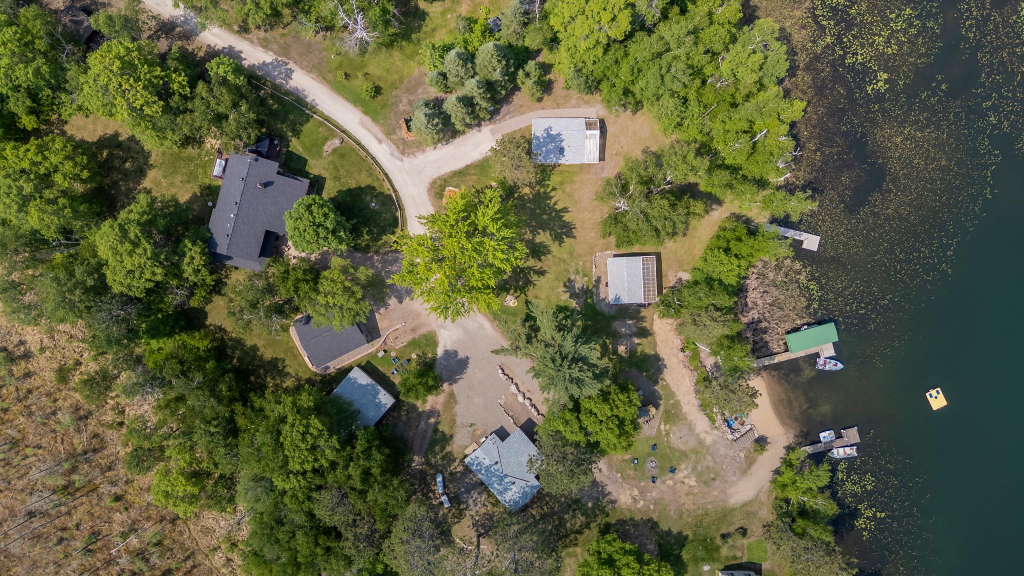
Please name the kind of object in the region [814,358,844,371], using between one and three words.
boat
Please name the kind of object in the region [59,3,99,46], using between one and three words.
shed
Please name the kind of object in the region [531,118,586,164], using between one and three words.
building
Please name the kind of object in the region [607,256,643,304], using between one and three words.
building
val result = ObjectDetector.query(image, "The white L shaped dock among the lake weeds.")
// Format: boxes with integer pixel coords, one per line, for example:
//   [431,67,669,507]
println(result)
[766,225,820,251]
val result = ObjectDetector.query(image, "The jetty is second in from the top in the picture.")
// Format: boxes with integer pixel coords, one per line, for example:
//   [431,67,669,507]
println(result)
[746,342,836,369]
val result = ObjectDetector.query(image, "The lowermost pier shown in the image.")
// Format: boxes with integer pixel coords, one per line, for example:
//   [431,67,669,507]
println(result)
[802,427,861,455]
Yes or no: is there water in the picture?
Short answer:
Yes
